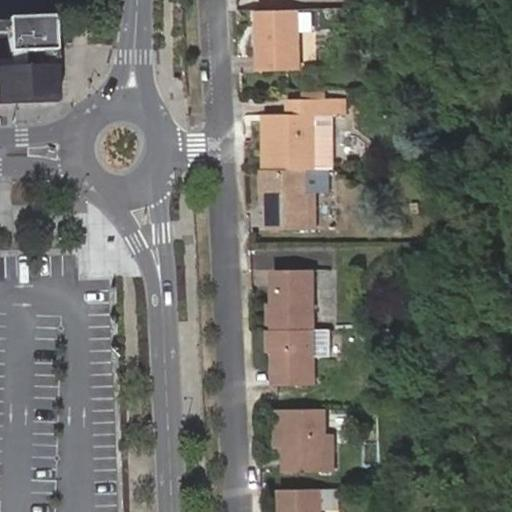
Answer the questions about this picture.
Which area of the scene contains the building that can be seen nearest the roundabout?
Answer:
top left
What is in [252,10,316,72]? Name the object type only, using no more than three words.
house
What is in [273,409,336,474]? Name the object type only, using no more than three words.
house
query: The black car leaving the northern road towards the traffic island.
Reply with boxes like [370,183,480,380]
[102,77,118,99]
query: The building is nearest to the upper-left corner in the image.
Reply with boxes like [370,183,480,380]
[0,0,63,103]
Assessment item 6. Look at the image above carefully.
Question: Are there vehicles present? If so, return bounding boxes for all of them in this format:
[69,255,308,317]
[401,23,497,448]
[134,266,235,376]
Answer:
[34,410,55,420]
[33,469,54,480]
[248,468,259,489]
[85,292,104,302]
[94,483,115,494]
[35,350,56,360]
[199,60,210,81]
[102,77,118,99]
[40,257,50,276]
[163,282,174,304]
[18,256,29,284]
[29,503,50,512]
[252,372,268,384]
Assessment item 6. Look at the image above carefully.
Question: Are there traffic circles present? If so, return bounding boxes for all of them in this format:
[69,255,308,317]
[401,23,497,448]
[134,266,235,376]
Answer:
[69,98,171,199]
